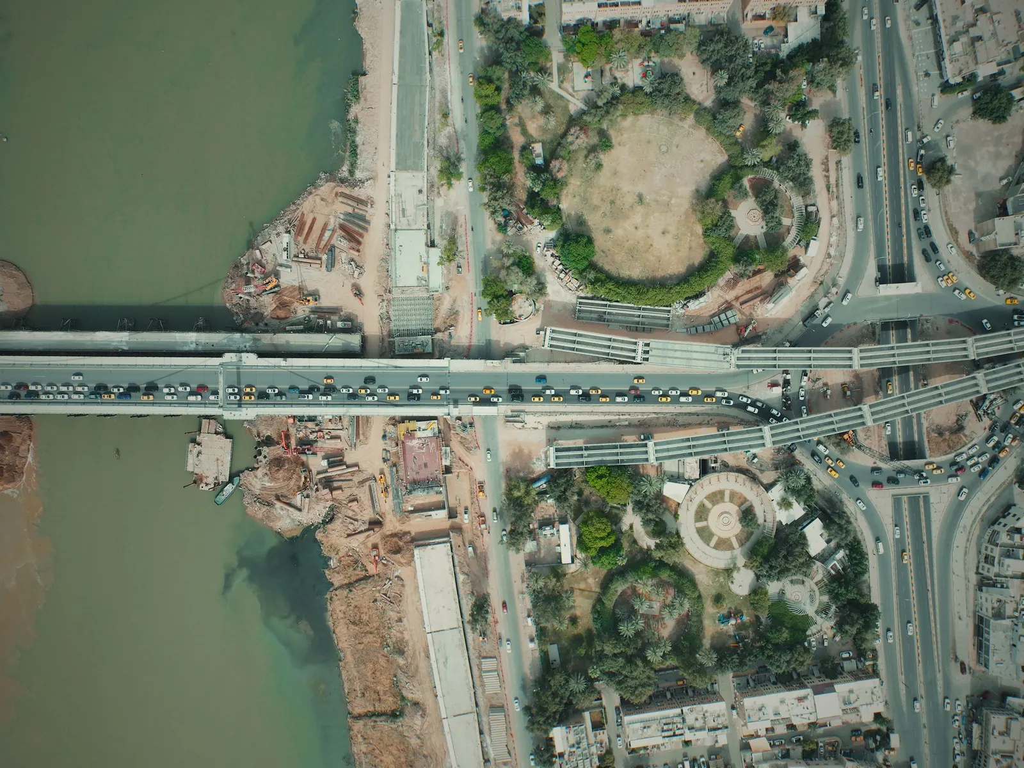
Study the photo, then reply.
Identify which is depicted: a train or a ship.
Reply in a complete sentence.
I can see a ship in this picture.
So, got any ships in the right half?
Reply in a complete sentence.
No, there is no ship in the right half.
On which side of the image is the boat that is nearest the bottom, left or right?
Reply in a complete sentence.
The boat that is nearest the bottom appears in the left half of the scene.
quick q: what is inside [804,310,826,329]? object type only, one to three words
vehicle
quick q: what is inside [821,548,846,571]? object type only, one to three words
shed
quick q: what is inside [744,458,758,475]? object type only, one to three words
vehicle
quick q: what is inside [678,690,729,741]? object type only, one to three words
building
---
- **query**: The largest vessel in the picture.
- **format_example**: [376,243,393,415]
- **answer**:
[184,419,234,489]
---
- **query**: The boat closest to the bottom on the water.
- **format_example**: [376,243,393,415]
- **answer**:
[215,478,238,505]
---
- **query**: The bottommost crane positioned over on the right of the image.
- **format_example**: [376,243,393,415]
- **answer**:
[841,430,921,478]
